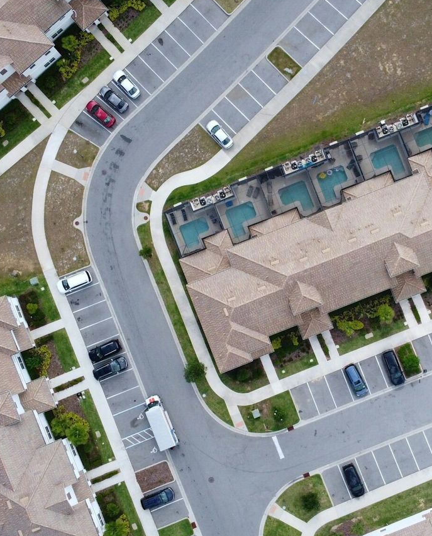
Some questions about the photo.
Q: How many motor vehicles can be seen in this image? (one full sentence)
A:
There are 12 motor vehicles in the image.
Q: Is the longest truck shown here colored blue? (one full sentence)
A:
No, the longest truck is actually white.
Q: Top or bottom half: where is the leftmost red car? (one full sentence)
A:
It is in the top half that the leftmost red car appears.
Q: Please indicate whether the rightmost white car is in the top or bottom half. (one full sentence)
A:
You can find the rightmost white car in the top half.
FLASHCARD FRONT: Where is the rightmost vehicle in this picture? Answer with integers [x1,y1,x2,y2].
[382,349,406,386]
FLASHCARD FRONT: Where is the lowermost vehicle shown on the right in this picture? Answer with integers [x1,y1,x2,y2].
[342,463,365,498]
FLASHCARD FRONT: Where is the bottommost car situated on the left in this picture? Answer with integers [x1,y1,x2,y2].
[139,486,176,510]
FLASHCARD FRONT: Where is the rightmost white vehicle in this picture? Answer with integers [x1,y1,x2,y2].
[207,119,234,151]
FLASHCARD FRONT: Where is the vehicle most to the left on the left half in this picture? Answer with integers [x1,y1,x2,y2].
[57,270,93,294]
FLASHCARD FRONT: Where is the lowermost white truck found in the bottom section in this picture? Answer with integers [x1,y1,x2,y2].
[148,393,181,452]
